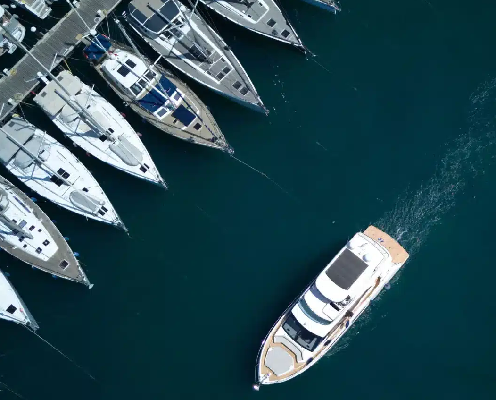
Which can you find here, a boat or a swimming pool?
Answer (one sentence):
Of the two, only a boat appears.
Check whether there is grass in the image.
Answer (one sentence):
No, there's no grass in this view.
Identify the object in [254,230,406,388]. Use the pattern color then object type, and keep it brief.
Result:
white boat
